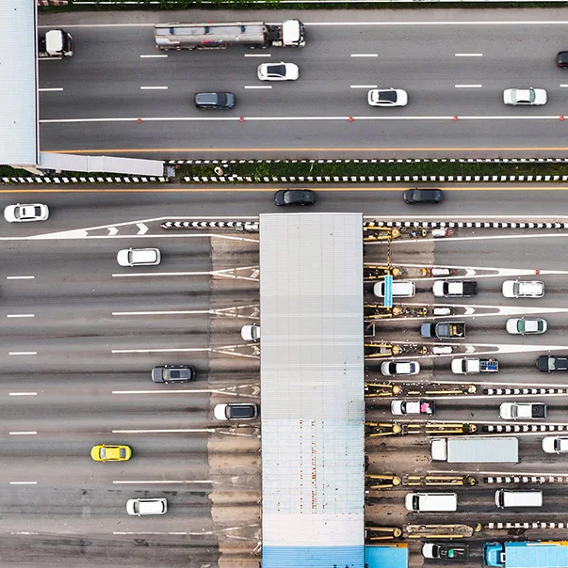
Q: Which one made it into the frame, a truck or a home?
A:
truck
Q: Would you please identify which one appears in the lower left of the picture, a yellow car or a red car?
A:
yellow car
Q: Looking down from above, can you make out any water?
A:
No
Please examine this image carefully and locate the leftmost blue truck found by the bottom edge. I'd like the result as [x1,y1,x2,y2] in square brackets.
[364,543,408,568]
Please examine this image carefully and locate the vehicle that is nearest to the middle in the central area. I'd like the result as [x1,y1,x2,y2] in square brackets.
[242,323,260,342]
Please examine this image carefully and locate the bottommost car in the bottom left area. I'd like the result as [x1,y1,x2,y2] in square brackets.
[127,497,169,516]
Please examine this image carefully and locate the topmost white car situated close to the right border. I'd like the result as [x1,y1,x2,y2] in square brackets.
[502,86,547,107]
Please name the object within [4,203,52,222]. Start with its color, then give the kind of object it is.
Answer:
white car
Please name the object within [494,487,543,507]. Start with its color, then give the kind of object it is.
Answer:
white vehicle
